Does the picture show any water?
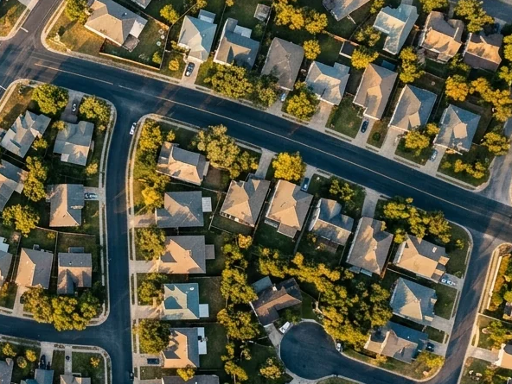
No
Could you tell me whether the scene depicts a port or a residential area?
residential area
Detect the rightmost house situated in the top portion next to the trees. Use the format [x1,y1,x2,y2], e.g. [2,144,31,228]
[460,32,504,74]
